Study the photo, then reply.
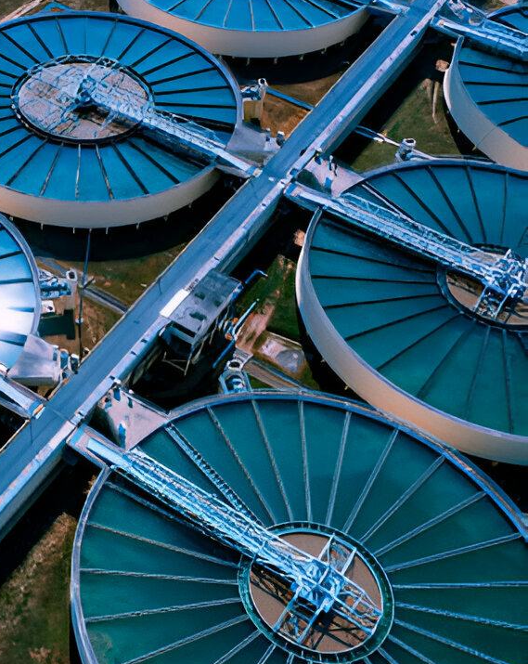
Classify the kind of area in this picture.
industrial area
